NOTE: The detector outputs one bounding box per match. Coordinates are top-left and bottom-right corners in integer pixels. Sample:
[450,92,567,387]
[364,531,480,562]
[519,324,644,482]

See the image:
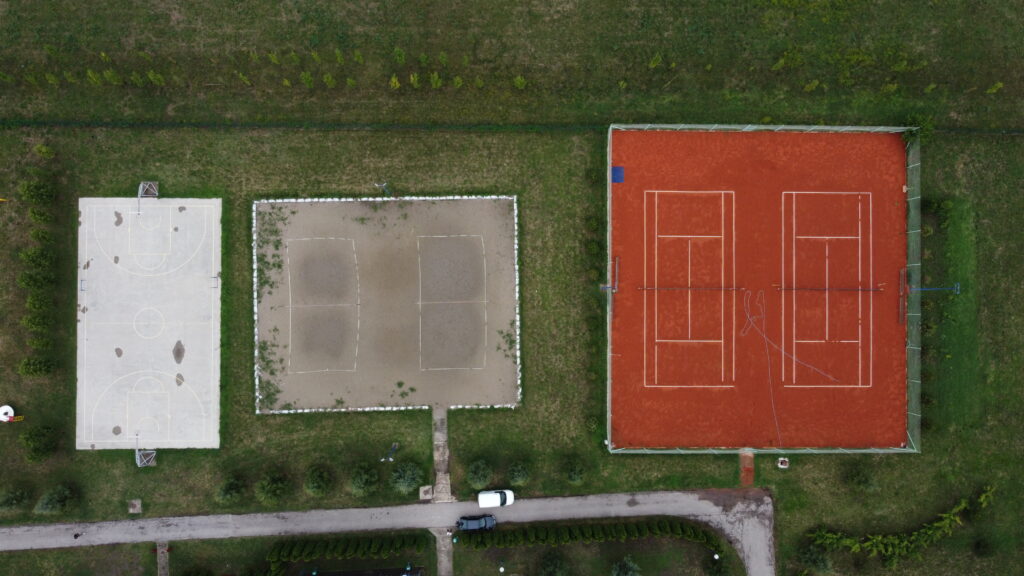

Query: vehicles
[459,514,496,531]
[476,488,514,507]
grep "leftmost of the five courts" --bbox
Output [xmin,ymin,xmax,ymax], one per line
[76,198,221,449]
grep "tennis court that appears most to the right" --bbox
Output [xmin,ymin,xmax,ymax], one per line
[759,130,908,448]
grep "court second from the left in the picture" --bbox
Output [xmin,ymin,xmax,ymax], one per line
[254,198,390,413]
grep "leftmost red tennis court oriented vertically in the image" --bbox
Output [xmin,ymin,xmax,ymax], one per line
[608,130,759,448]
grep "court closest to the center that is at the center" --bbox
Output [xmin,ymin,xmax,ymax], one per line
[388,196,520,409]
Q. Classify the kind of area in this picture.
sports ground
